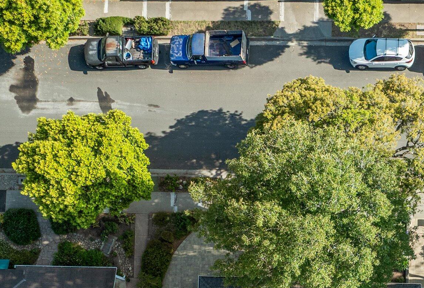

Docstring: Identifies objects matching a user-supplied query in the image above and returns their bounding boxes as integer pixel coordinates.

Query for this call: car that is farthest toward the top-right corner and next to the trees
[349,33,414,68]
